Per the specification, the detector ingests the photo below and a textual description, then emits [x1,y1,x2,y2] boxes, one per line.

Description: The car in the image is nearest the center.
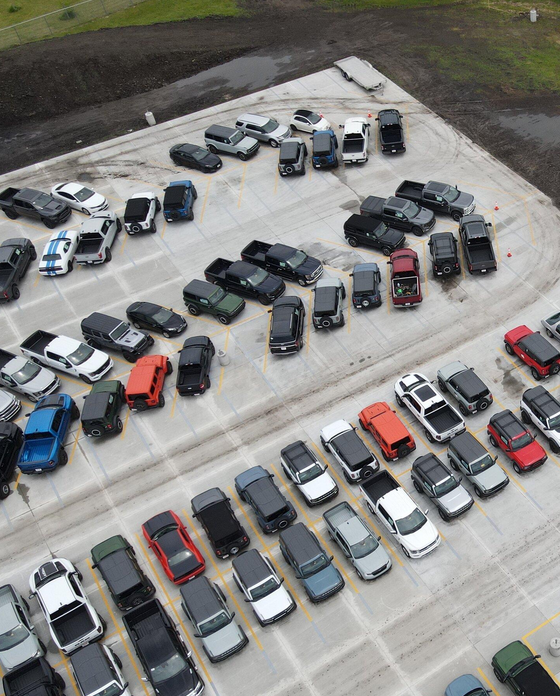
[269,296,309,358]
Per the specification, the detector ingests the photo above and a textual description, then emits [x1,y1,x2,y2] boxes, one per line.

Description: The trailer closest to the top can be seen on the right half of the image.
[336,57,386,95]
